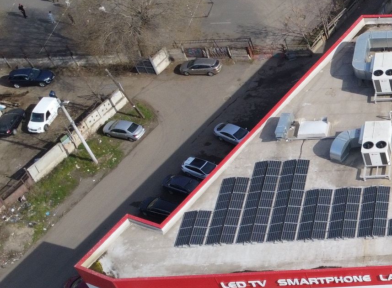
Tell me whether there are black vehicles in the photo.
Yes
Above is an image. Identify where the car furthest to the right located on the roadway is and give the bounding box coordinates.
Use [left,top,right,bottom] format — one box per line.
[214,123,254,143]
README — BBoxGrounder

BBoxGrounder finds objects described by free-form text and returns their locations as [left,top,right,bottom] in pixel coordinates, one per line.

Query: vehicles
[0,108,31,138]
[27,94,65,129]
[214,123,254,143]
[181,156,221,179]
[63,275,89,288]
[180,56,222,75]
[162,174,204,198]
[137,198,181,223]
[8,66,52,87]
[103,119,146,141]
